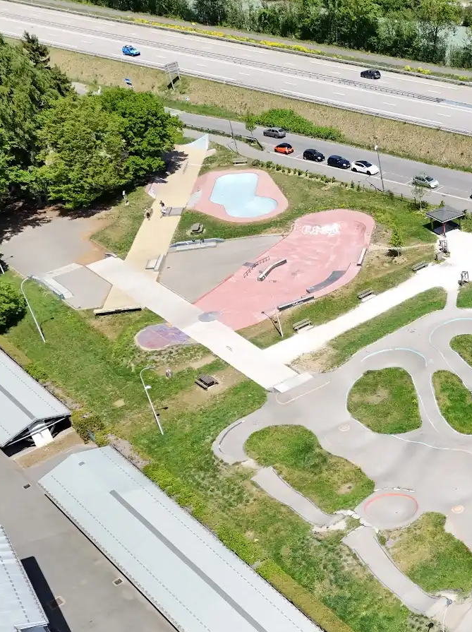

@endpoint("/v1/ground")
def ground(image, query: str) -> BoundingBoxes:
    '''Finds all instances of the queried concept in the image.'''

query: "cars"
[324,152,351,169]
[358,67,380,78]
[272,140,294,153]
[121,45,140,55]
[300,148,325,162]
[410,171,439,189]
[348,160,378,174]
[262,125,287,137]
